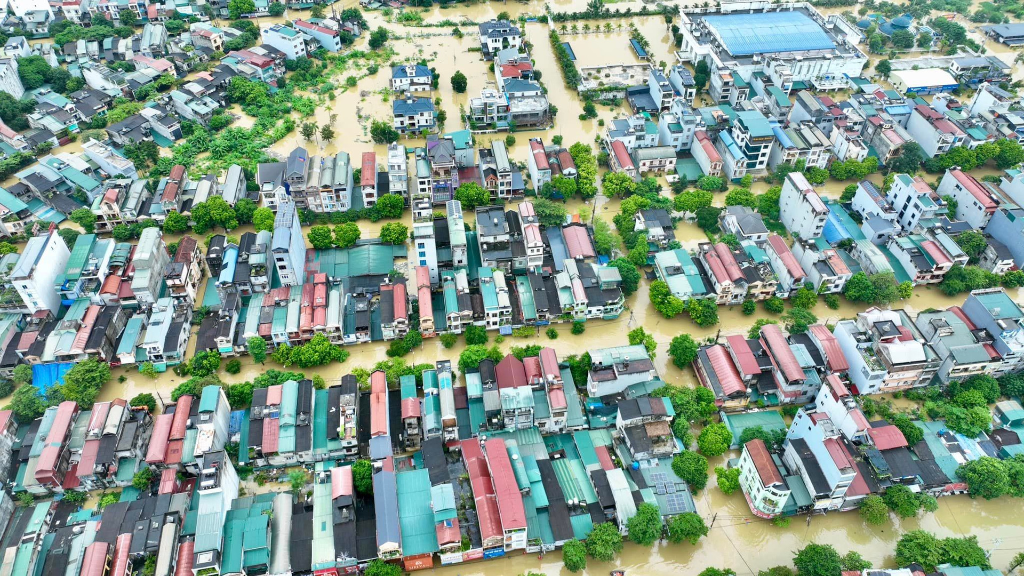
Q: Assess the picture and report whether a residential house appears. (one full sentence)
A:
Yes, I can see a residential house in this picture.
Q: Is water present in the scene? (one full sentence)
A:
Yes, water shows up in the scene.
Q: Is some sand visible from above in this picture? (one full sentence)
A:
No, there's no sand in this view.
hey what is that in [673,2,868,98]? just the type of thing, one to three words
building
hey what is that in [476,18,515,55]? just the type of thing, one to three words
house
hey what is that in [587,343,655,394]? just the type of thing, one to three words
house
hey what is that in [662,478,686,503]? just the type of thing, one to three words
solar panel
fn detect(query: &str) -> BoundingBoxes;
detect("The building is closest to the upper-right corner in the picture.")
[981,23,1024,51]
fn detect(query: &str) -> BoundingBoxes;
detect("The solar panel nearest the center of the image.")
[448,201,463,225]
